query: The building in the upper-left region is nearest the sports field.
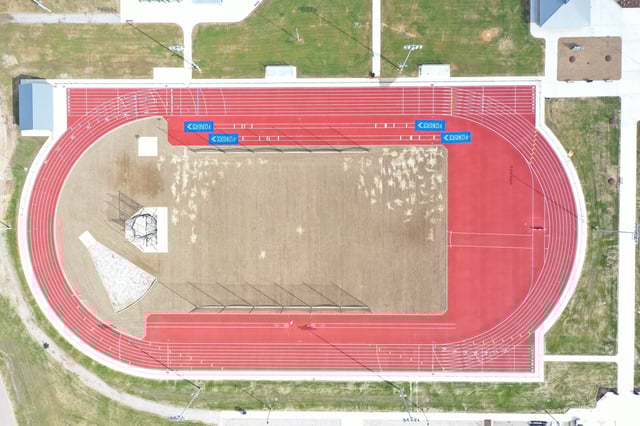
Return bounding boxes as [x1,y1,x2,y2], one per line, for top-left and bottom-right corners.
[18,82,57,130]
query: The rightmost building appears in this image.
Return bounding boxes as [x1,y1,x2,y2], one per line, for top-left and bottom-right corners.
[538,0,591,29]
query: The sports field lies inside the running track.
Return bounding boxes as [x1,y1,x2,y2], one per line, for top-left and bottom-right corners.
[55,117,448,339]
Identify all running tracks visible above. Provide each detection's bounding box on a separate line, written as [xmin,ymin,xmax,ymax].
[27,85,577,372]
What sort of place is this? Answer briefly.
sports ground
